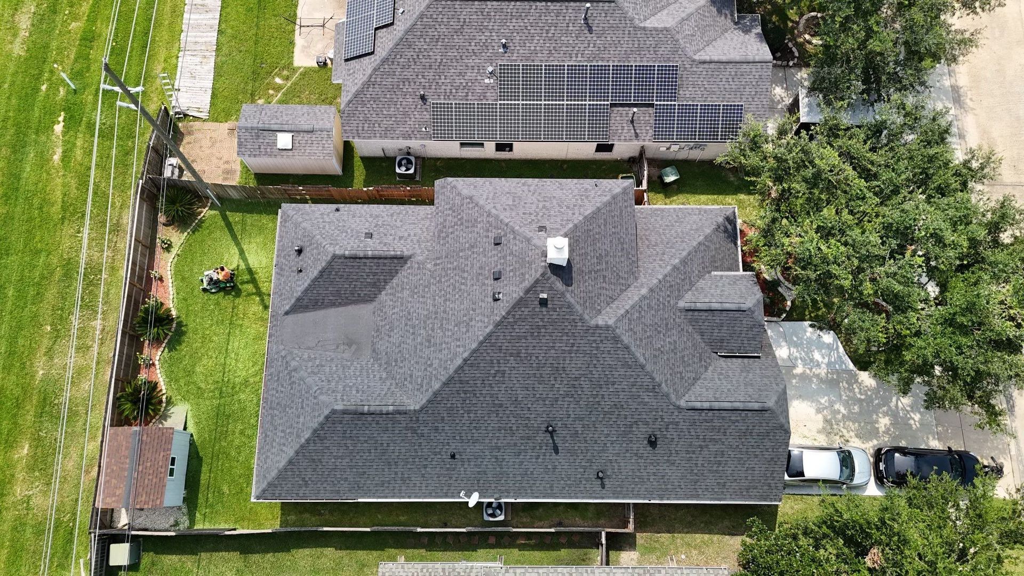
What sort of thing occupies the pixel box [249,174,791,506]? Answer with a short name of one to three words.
house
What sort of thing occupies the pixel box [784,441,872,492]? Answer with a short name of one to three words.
car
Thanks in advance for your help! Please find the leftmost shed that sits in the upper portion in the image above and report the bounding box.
[236,105,344,174]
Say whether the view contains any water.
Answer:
No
